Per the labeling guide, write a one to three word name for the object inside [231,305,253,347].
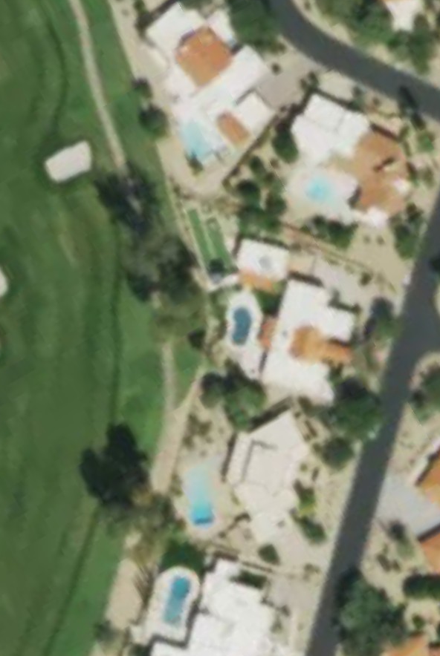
swimming pool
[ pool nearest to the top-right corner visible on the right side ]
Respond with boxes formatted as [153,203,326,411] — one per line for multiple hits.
[303,175,334,207]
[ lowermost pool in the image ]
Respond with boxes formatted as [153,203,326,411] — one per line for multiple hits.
[163,574,194,626]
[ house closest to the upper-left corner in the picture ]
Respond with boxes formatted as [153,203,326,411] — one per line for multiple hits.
[146,3,275,159]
